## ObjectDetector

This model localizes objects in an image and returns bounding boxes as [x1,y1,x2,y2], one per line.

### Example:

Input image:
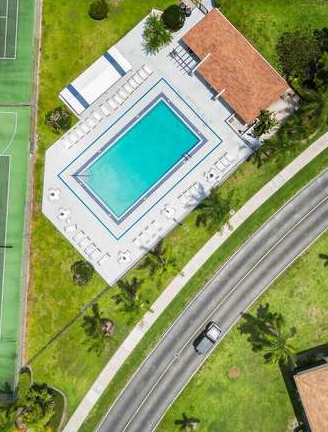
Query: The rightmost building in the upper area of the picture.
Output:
[183,7,290,124]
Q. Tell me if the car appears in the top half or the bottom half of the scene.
bottom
